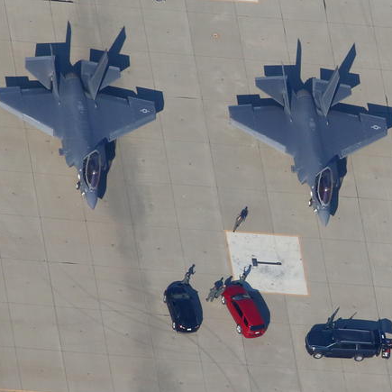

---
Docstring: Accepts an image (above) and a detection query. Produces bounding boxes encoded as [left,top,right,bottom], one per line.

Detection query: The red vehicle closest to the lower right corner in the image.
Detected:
[221,288,264,340]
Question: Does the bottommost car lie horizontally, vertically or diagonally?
horizontally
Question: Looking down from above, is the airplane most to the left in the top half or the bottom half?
top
